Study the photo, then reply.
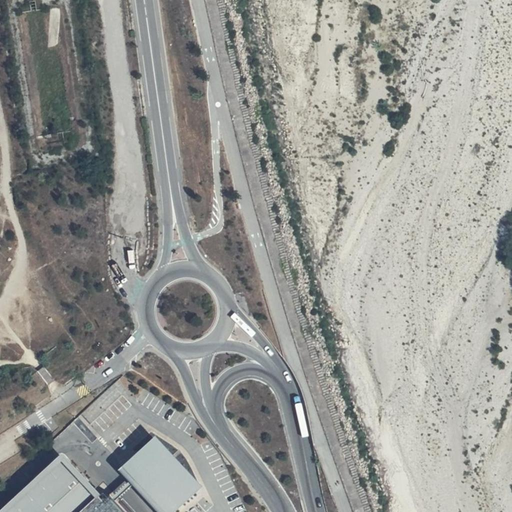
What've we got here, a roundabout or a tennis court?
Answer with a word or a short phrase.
roundabout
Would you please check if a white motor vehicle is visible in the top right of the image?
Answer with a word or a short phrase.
No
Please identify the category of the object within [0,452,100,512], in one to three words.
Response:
building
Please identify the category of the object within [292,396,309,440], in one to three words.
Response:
vehicle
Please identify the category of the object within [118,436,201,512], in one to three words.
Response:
building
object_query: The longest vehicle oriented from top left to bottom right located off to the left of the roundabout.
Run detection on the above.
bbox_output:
[108,260,128,283]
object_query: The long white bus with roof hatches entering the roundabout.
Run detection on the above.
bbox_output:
[229,311,256,338]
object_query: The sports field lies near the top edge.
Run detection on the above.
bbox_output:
[27,8,72,130]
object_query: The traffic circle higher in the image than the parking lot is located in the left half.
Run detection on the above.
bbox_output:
[140,264,233,358]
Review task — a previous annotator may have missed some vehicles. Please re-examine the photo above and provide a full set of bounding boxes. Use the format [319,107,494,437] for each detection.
[111,275,122,288]
[283,371,292,384]
[93,360,104,369]
[122,335,136,348]
[114,344,125,355]
[234,504,246,512]
[101,367,114,378]
[114,437,124,448]
[229,311,256,338]
[108,260,128,283]
[104,352,114,362]
[118,287,128,298]
[226,493,238,502]
[264,346,275,358]
[164,408,173,420]
[292,396,309,440]
[314,496,322,509]
[128,250,136,270]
